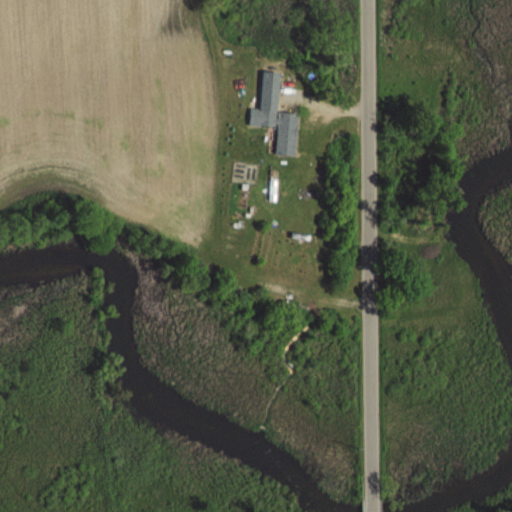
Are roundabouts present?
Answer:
No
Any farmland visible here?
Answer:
Yes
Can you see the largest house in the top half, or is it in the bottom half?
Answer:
top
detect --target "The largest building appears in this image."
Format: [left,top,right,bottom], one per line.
[248,70,282,127]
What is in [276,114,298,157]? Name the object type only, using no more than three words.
building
